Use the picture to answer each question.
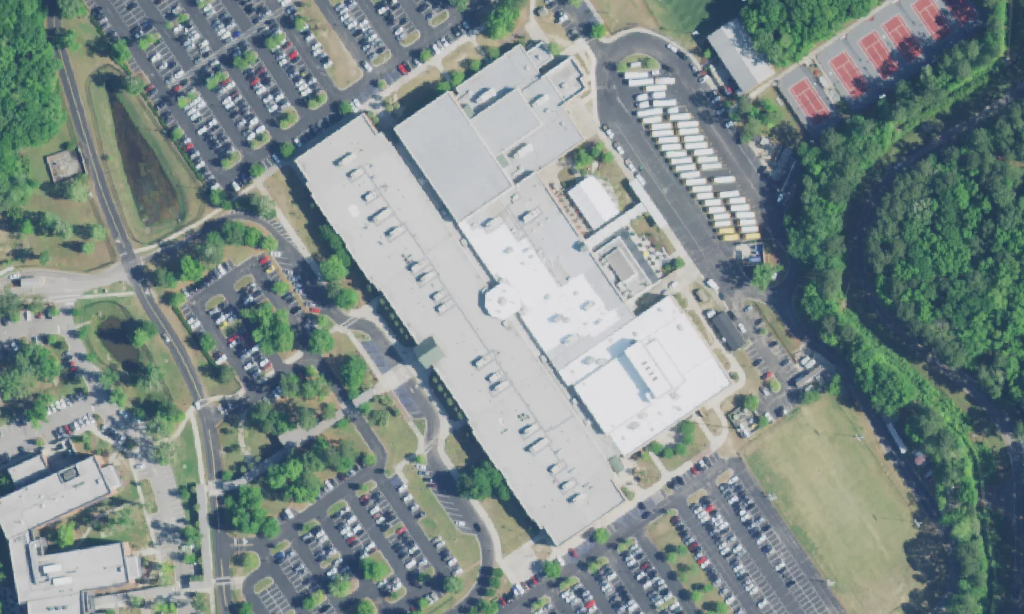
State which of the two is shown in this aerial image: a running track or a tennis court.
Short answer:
tennis court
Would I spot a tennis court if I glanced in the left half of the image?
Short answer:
No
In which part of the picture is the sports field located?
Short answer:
bottom right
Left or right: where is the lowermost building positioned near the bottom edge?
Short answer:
left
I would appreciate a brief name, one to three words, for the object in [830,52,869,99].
tennis court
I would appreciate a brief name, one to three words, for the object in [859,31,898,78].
tennis court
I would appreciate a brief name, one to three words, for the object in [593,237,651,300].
building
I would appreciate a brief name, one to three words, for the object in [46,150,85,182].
building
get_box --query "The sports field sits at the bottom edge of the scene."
[733,394,926,614]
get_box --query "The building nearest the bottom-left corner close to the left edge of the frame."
[0,451,141,614]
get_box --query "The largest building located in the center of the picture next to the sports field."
[296,42,730,546]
